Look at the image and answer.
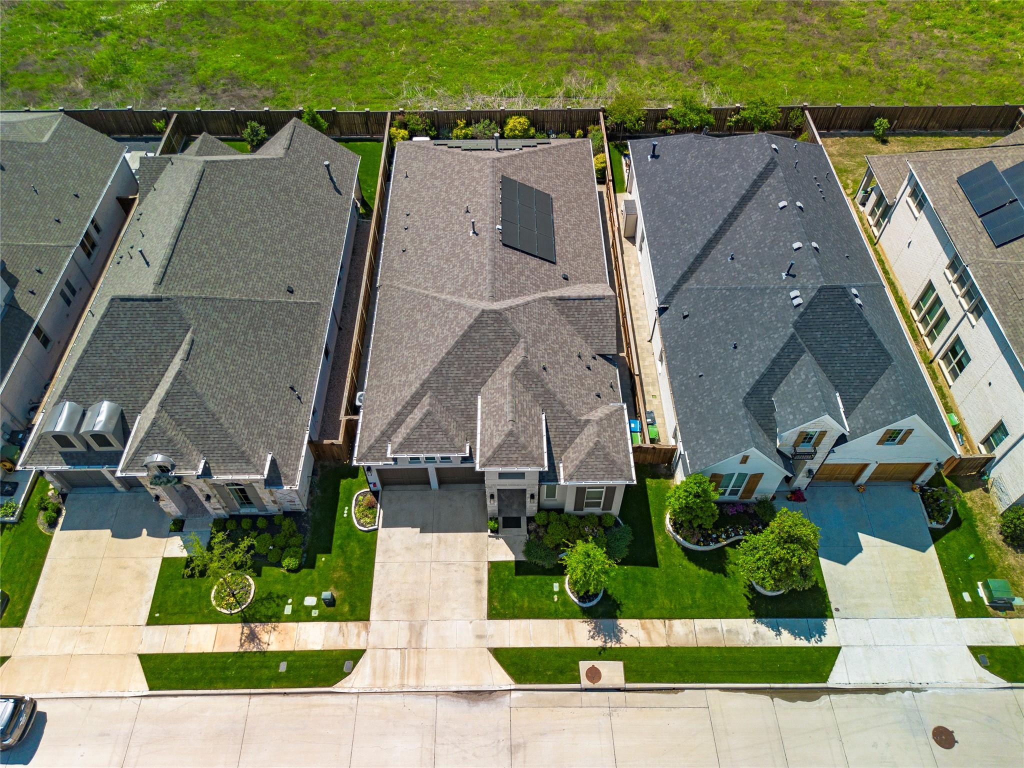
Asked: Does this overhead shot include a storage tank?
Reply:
No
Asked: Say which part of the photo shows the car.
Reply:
bottom left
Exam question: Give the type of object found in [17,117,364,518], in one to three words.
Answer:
house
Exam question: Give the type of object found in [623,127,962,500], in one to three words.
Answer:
house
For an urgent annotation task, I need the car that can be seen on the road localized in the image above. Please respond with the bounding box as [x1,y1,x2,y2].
[0,699,42,756]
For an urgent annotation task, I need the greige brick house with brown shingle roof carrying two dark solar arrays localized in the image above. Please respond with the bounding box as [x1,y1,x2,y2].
[350,135,640,516]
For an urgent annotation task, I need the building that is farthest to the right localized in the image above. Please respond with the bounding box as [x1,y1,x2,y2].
[849,132,1024,511]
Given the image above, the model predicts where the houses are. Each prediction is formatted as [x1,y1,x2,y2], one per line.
[623,127,962,500]
[17,117,364,518]
[849,132,1024,511]
[350,135,640,516]
[0,113,134,468]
